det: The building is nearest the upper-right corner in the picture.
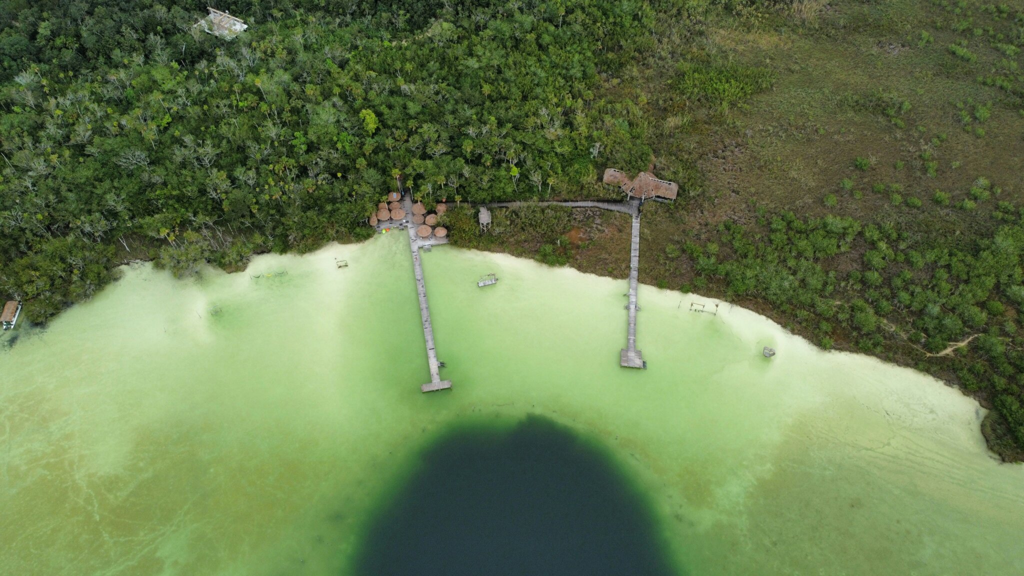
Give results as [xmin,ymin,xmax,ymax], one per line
[603,168,678,212]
